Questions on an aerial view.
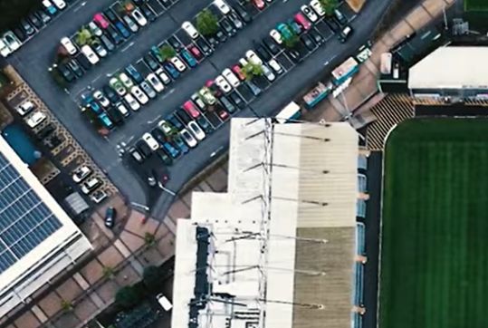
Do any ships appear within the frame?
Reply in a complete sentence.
No, no ship is visible in the scene.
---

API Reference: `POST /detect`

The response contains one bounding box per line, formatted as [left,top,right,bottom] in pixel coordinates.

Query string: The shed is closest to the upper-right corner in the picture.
[397,27,431,62]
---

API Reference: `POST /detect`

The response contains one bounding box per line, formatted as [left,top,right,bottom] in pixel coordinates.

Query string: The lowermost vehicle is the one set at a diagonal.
[155,291,171,312]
